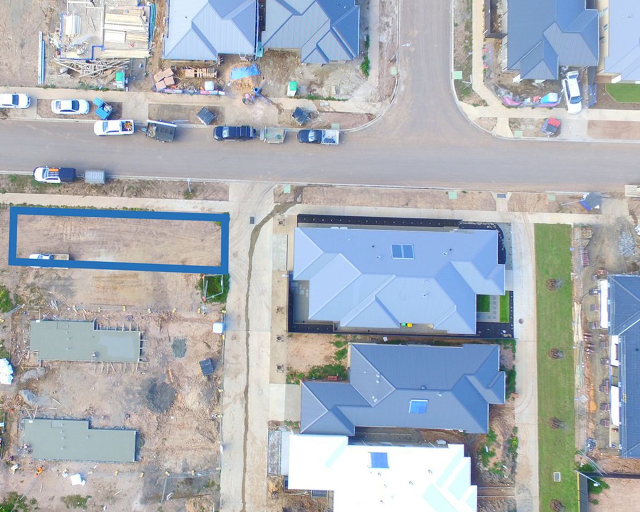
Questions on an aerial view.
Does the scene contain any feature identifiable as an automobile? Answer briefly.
Yes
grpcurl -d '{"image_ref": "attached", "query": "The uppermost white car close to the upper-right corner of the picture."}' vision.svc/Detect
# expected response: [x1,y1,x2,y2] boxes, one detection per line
[565,71,588,112]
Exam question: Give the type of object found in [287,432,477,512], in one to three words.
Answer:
house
